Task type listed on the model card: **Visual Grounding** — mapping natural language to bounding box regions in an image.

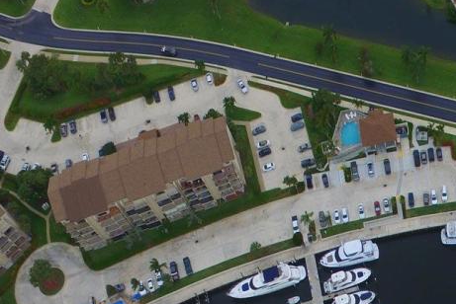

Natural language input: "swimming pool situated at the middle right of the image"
[331,107,365,153]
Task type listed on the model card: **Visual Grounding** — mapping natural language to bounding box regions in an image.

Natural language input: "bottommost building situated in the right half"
[361,114,396,153]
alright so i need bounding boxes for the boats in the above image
[319,242,383,268]
[323,268,370,294]
[227,262,309,296]
[328,284,375,304]
[436,224,456,247]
